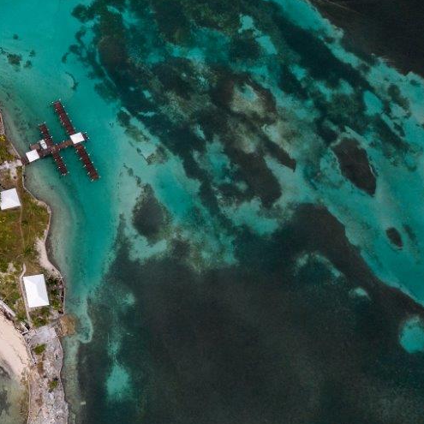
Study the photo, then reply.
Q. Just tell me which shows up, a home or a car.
home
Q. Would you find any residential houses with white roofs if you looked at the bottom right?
No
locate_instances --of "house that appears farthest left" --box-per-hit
[0,188,20,209]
